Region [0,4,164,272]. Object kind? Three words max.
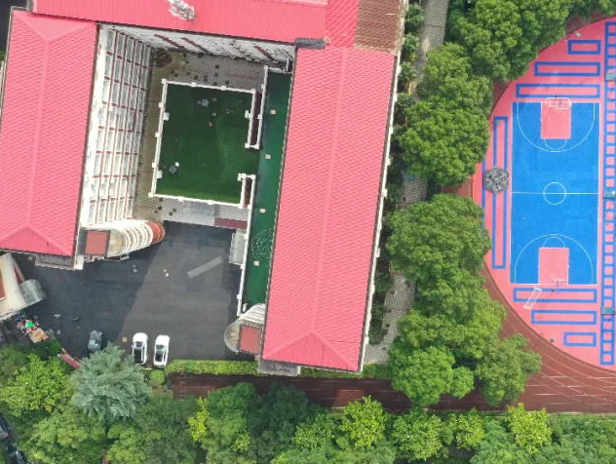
building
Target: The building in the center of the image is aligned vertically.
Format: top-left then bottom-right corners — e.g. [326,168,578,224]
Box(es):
[224,39,401,378]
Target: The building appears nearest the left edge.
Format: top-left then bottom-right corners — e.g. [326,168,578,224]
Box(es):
[0,254,57,320]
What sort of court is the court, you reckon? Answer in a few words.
basketball court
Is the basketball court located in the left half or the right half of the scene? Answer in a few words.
right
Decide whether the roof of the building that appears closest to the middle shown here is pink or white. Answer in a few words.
pink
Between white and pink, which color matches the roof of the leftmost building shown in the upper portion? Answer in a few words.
pink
